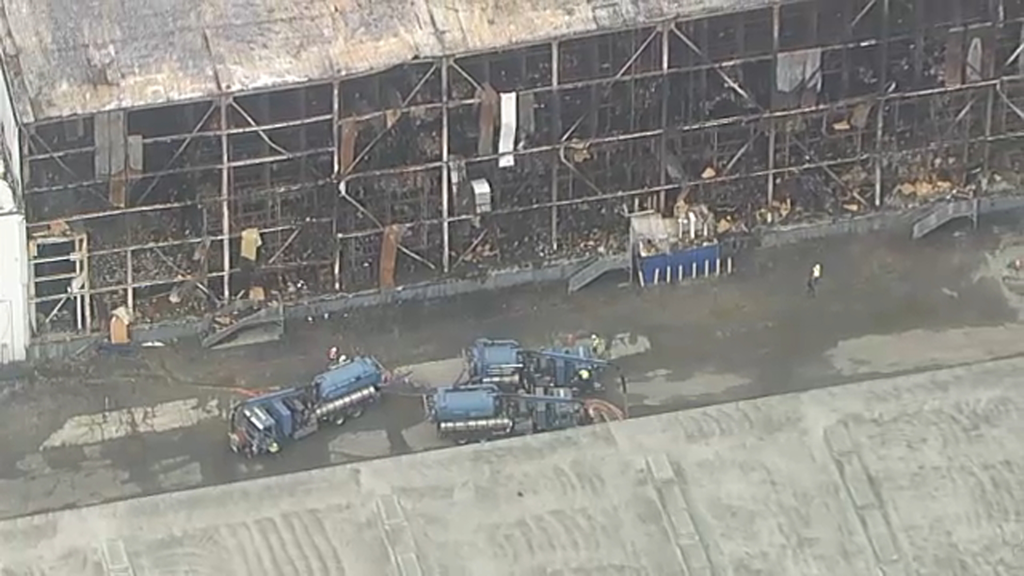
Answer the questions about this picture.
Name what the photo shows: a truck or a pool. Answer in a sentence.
It is a truck that can be seen here.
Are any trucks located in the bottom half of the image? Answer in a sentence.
Yes, you'll find a truck in the bottom half of the image.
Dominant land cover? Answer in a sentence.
Most of the picture is covered by buildings.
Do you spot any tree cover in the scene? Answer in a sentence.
No, the picture contains no tree cover.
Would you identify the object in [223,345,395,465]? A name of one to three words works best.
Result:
truck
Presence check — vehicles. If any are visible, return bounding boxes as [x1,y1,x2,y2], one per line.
[465,331,619,404]
[424,378,590,446]
[223,345,395,465]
